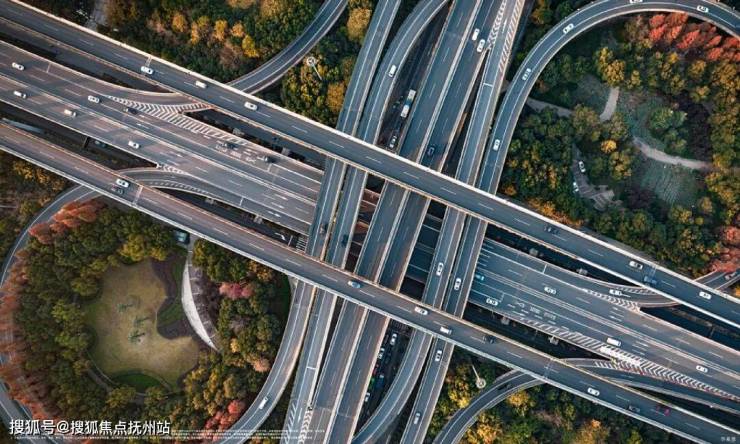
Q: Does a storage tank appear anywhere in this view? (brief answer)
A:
No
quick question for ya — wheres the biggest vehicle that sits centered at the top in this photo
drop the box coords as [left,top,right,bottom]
[401,88,416,117]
